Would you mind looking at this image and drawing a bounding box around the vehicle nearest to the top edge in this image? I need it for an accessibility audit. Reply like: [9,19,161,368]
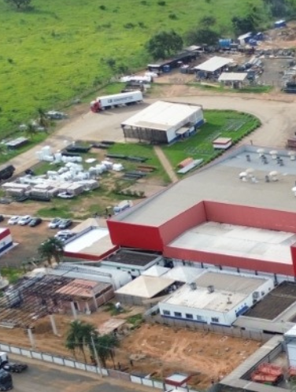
[91,92,144,113]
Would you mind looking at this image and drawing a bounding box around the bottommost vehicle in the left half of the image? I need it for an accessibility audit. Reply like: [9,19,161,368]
[0,368,15,388]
